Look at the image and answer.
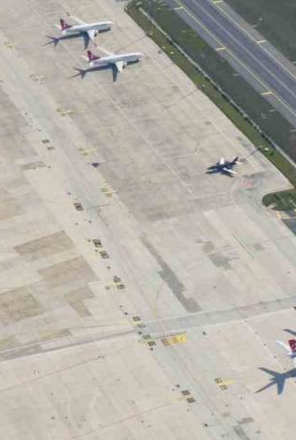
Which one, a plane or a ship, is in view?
plane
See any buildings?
No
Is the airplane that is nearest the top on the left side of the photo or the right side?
left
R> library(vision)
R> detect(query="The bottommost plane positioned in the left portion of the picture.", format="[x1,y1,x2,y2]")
[87,45,143,73]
